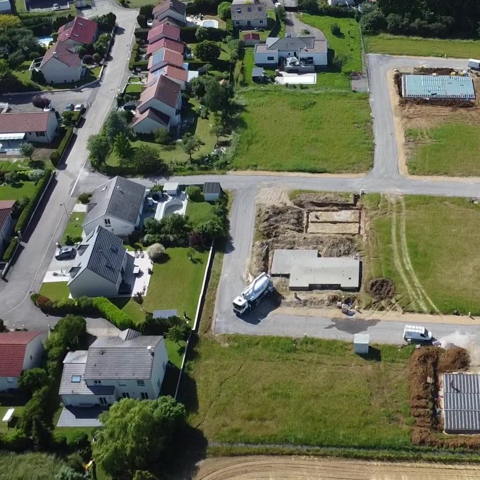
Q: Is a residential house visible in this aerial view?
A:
Yes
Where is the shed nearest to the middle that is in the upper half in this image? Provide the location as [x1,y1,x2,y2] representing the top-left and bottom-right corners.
[203,178,222,201]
